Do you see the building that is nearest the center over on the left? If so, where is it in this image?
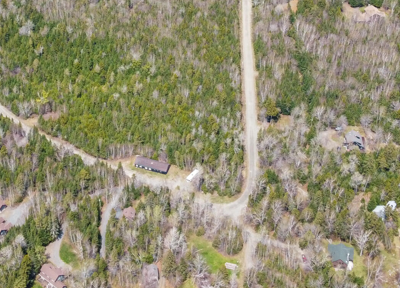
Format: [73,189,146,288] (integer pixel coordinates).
[132,156,173,177]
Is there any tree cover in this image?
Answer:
Yes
